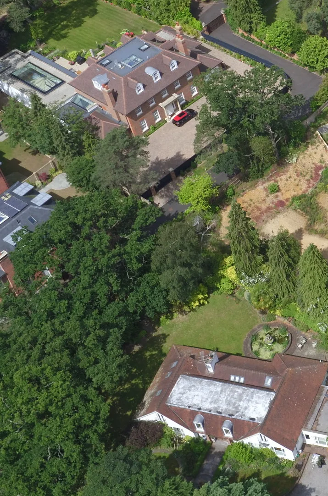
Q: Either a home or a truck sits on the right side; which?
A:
home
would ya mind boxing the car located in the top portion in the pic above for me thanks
[172,109,198,128]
